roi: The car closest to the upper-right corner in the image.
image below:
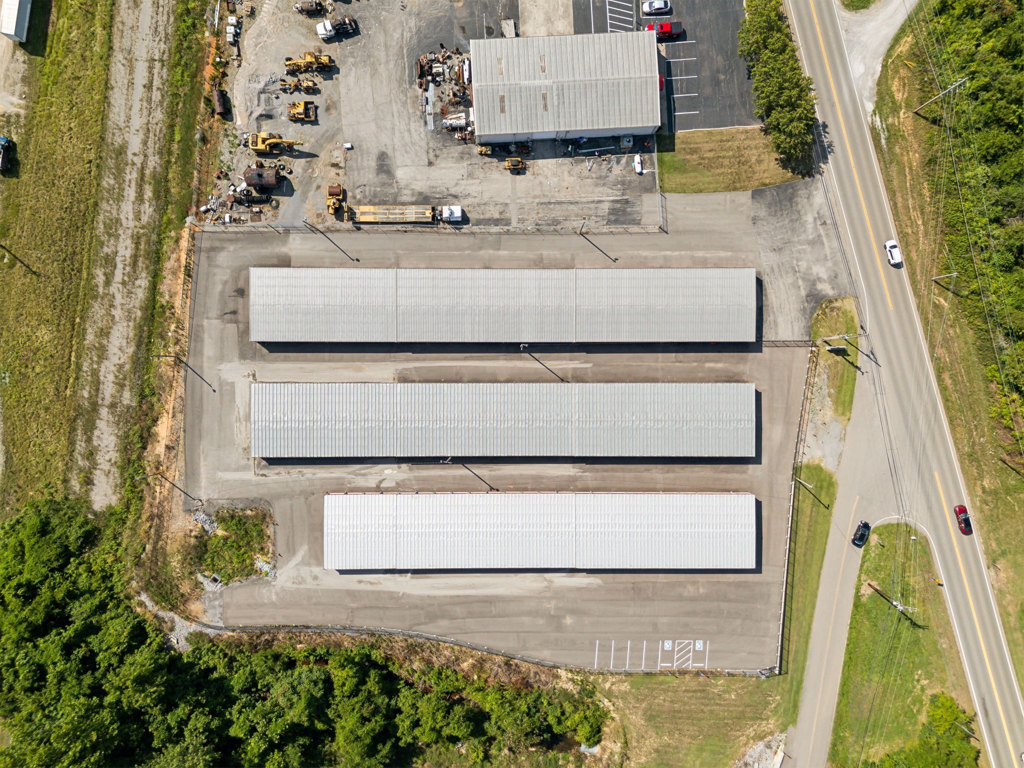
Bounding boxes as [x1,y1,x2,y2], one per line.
[883,239,903,268]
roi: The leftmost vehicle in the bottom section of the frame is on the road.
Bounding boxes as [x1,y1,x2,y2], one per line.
[851,519,869,548]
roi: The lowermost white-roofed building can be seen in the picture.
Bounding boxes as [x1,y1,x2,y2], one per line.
[324,491,756,570]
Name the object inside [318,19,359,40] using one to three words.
truck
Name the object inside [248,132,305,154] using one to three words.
work vehicle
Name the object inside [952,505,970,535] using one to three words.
car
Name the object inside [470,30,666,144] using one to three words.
building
